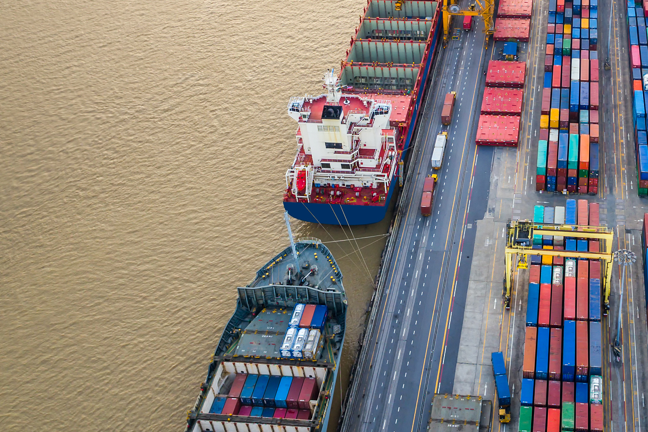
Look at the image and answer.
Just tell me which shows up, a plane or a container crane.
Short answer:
container crane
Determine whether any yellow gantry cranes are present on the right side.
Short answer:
Yes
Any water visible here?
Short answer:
Yes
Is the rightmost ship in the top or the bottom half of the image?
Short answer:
top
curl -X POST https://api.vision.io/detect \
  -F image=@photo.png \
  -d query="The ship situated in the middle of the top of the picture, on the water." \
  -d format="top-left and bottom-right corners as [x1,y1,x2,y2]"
[284,0,448,227]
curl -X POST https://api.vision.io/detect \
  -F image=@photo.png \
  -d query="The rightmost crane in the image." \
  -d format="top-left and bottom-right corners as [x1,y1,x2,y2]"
[499,218,616,317]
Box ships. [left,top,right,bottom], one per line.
[186,212,349,432]
[284,0,448,227]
